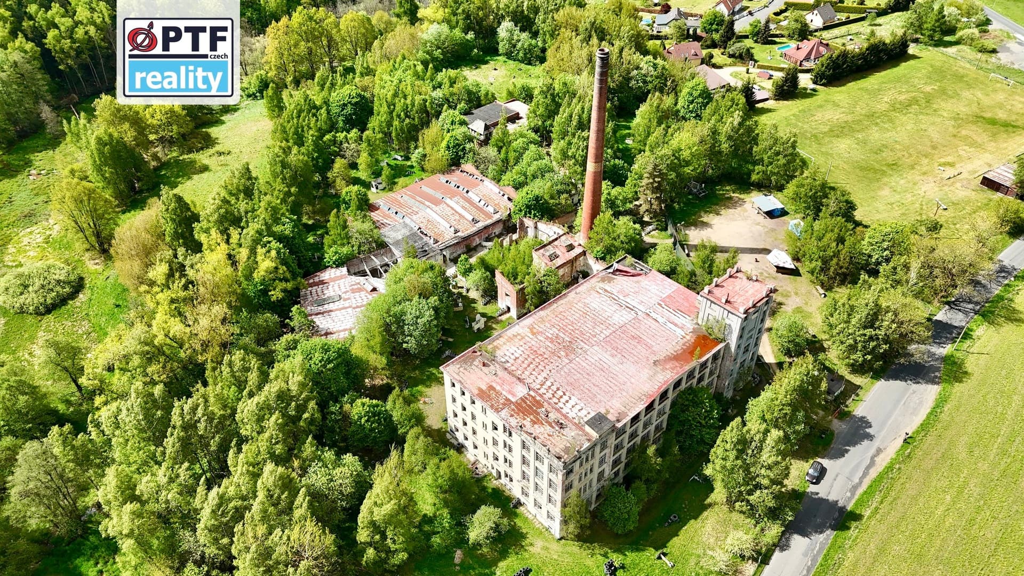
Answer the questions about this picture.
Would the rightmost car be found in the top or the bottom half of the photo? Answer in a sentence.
You can find the rightmost car in the bottom half.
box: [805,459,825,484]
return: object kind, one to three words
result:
car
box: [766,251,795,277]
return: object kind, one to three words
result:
shed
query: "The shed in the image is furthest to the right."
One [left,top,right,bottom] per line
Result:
[976,163,1023,196]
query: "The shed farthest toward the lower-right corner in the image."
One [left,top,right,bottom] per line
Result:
[822,365,860,400]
